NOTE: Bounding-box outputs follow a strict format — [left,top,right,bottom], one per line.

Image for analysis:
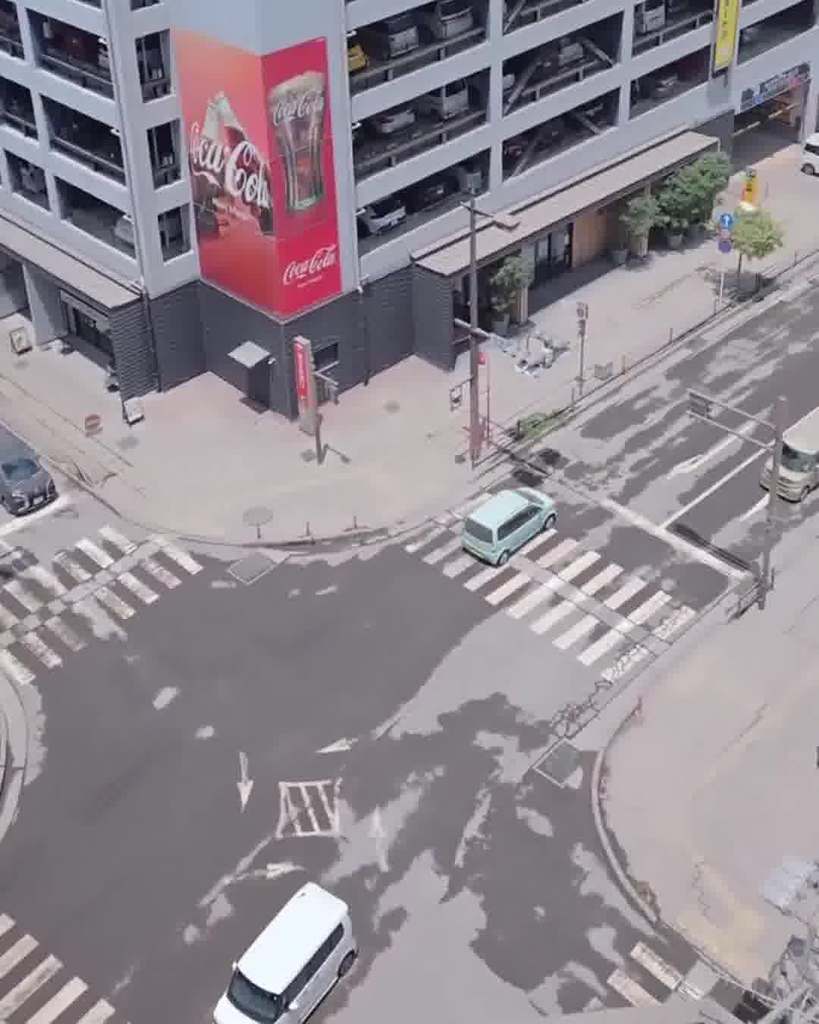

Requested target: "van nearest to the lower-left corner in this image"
[218,889,353,1024]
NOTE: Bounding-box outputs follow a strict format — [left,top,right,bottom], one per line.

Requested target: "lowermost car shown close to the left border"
[0,419,54,509]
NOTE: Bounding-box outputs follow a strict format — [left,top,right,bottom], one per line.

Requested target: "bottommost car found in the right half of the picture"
[462,484,557,564]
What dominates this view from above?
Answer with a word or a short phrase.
paved ground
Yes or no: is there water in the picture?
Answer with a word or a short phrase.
No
